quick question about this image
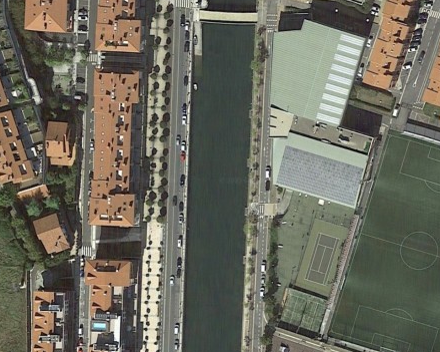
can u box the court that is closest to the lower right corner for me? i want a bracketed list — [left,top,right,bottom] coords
[299,294,326,334]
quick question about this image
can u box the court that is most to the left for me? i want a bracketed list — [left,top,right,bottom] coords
[279,288,307,327]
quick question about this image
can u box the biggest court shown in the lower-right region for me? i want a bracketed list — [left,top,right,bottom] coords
[294,218,350,296]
